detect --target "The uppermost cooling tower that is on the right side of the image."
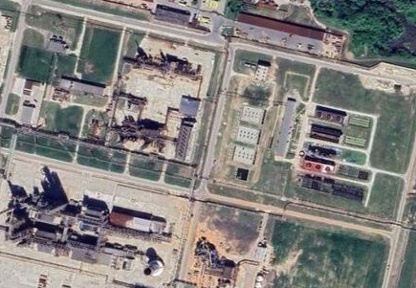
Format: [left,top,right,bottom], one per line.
[315,106,352,124]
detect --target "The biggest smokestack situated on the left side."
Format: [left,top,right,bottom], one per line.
[144,250,174,279]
